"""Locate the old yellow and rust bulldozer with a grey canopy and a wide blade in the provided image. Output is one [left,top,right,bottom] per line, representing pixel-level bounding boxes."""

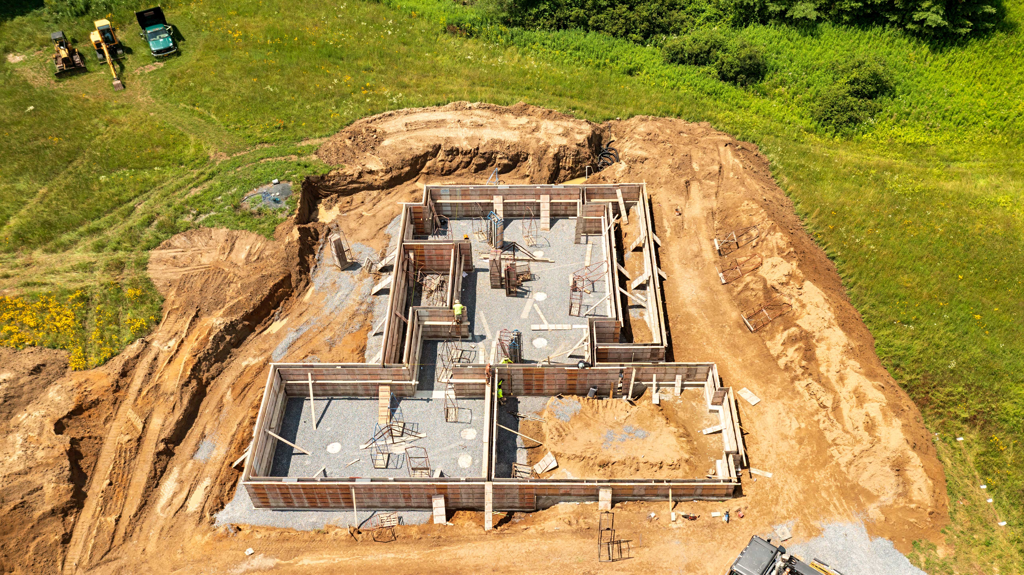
[51,32,88,78]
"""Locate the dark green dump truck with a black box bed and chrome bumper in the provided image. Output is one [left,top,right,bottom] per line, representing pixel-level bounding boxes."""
[132,0,176,56]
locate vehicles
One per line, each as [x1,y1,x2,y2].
[732,530,875,575]
[89,18,126,87]
[51,32,88,78]
[132,0,176,56]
